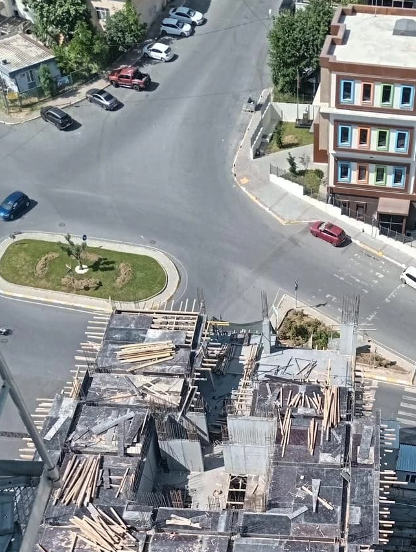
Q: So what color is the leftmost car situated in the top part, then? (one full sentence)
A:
From above, the leftmost car situated in the top part appears blue.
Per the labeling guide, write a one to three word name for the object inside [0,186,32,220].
car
